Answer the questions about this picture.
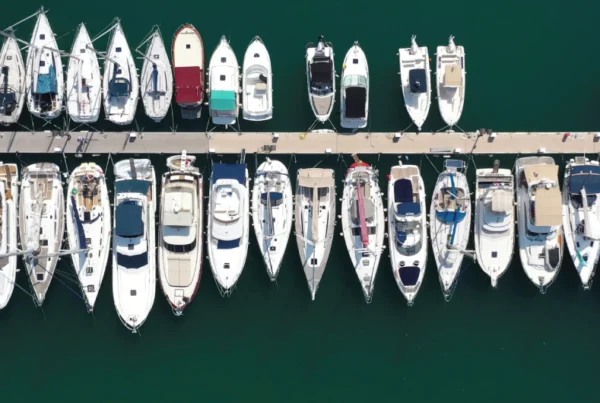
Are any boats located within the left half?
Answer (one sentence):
Yes, I can see a boat within the left half.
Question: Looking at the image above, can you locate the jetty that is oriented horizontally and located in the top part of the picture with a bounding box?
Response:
[0,132,600,153]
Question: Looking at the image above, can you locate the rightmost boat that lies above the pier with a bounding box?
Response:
[434,34,467,127]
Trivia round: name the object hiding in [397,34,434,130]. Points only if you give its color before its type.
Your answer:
white boat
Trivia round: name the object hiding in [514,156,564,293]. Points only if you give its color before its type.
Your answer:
white boat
